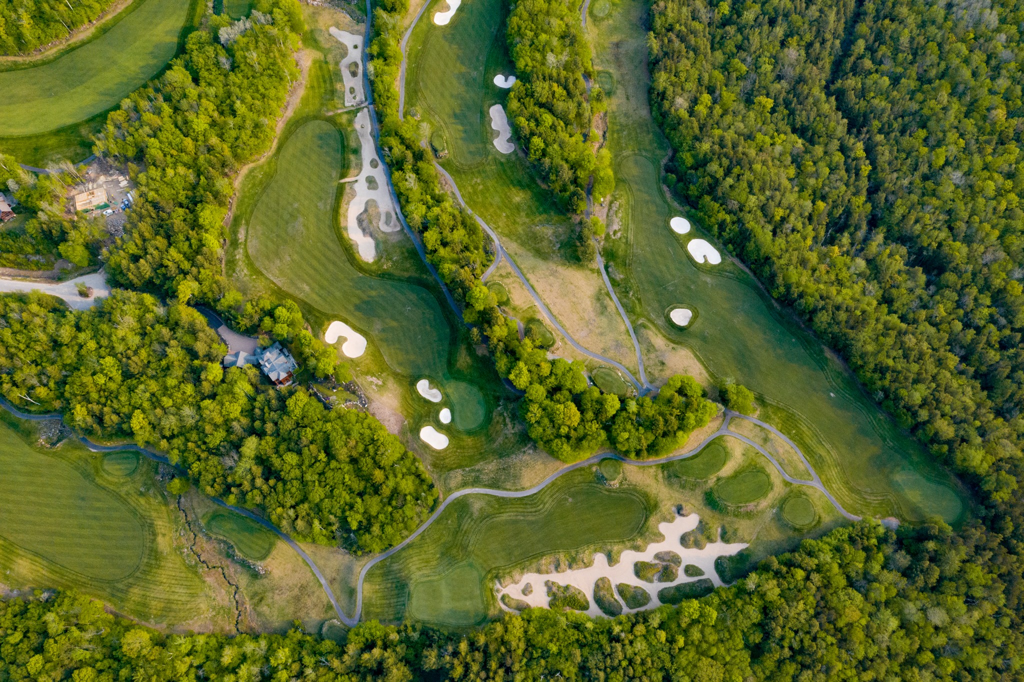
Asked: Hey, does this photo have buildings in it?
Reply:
Yes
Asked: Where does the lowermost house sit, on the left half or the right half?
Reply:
left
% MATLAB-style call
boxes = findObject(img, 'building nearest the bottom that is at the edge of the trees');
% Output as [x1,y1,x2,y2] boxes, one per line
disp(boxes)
[222,341,300,388]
